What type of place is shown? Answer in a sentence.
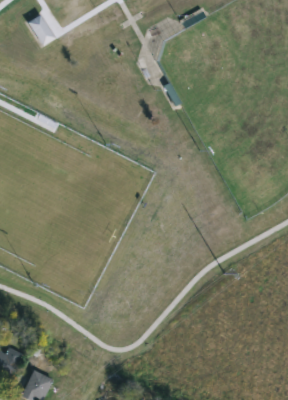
This looks like a sports ground.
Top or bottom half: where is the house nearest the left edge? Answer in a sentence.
The house nearest the left edge sits in the bottom half of the picture.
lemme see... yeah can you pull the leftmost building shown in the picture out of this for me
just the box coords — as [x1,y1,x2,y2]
[0,347,22,374]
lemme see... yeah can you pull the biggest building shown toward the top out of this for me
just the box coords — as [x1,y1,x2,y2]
[27,14,55,46]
